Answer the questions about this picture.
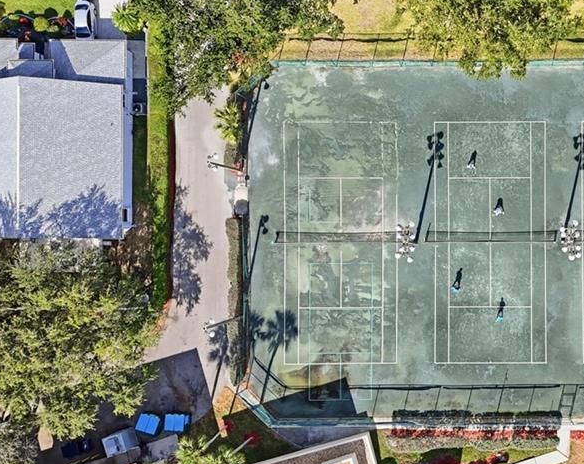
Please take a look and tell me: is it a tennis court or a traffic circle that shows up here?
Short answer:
tennis court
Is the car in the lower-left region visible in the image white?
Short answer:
No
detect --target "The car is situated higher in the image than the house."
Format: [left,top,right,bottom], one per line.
[74,0,100,39]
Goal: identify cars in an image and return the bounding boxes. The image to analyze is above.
[74,0,100,39]
[52,434,100,463]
